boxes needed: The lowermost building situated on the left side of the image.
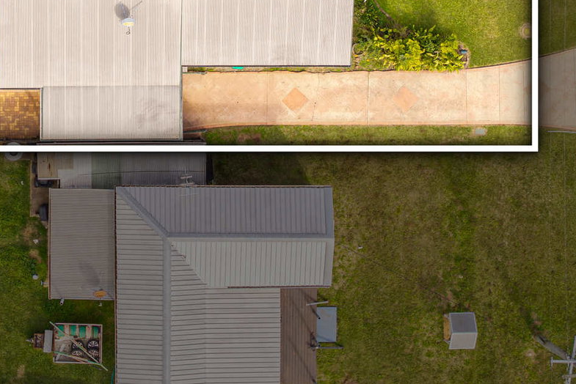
[47,183,338,384]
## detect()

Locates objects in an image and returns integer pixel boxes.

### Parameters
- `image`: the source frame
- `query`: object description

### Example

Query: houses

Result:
[47,183,338,384]
[0,0,355,142]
